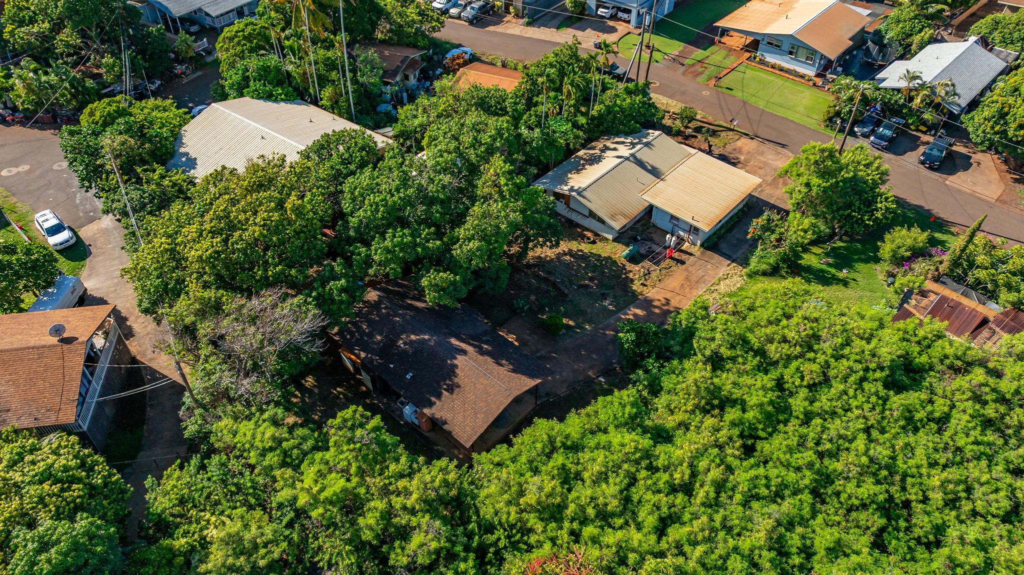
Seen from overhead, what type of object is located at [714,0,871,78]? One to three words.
house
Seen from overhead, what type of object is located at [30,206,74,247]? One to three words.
car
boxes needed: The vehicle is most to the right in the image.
[922,126,964,165]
